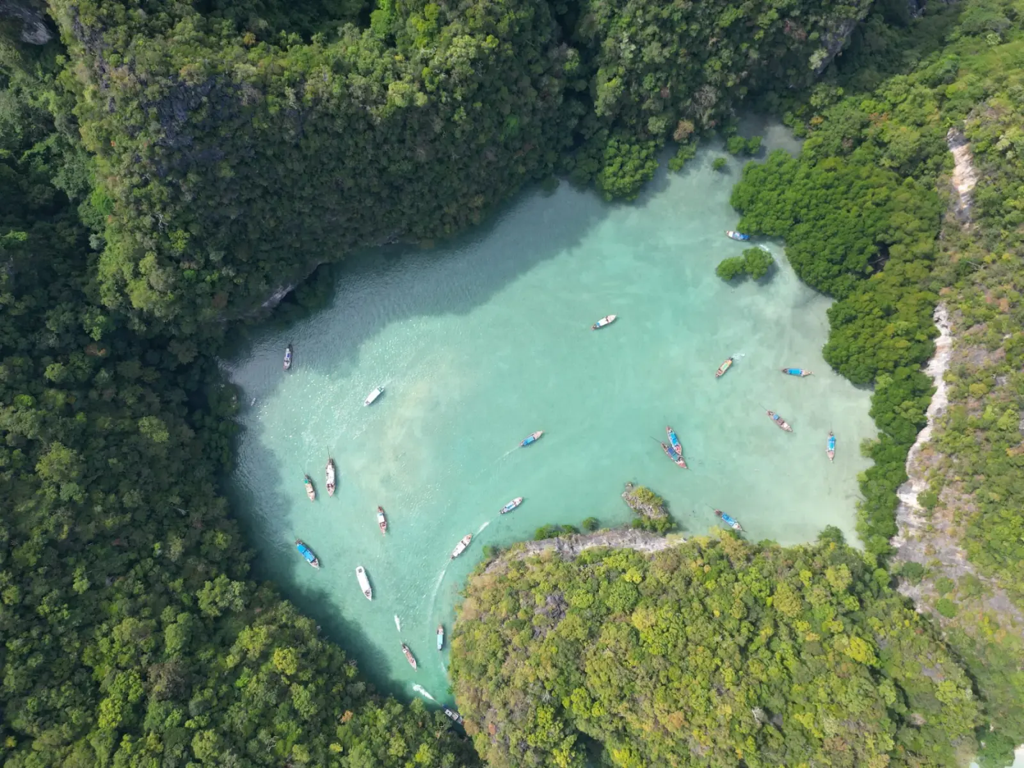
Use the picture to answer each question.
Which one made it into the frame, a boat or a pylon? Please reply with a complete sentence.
The image shows a boat.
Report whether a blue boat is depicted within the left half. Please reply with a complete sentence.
Yes, a blue boat can be seen within the left half.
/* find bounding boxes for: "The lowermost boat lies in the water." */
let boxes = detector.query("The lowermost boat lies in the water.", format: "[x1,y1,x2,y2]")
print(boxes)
[441,703,463,726]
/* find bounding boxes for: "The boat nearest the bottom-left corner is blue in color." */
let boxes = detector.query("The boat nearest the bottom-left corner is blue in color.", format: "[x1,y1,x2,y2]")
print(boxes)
[294,536,319,570]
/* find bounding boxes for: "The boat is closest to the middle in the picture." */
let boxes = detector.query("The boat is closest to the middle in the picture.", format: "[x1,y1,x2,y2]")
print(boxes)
[515,431,544,449]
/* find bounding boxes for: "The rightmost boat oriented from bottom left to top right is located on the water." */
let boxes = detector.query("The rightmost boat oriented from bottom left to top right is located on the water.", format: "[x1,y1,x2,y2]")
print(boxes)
[717,358,733,378]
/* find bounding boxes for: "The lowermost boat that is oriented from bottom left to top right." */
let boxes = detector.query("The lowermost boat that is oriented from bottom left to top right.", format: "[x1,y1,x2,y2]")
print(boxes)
[450,534,472,560]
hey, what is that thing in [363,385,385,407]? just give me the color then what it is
white boat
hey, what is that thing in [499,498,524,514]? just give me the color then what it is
white boat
